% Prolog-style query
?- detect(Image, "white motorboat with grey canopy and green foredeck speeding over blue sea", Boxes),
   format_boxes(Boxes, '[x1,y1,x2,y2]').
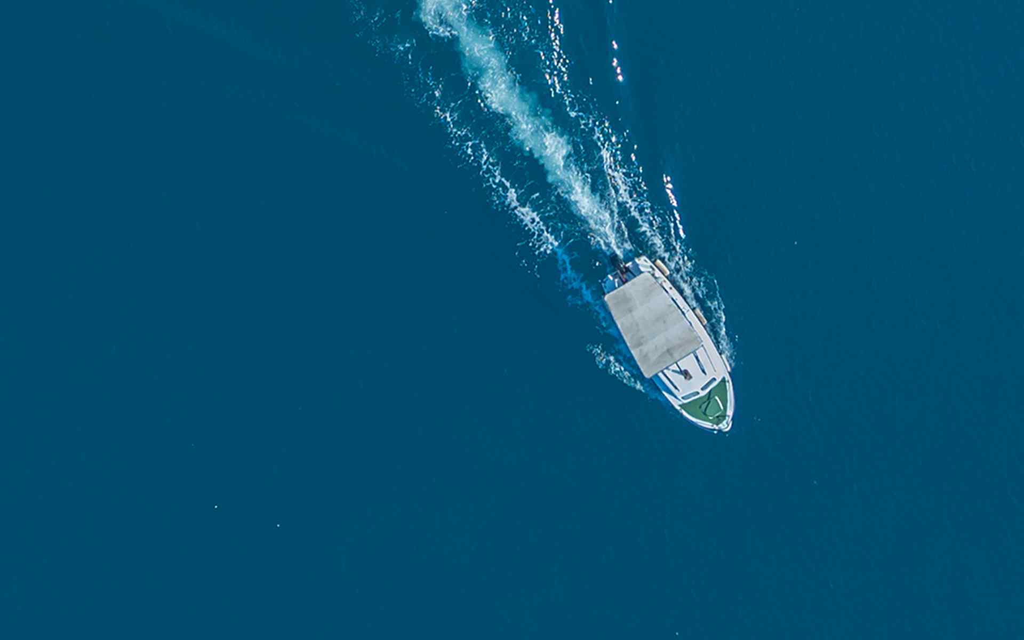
[602,256,736,433]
